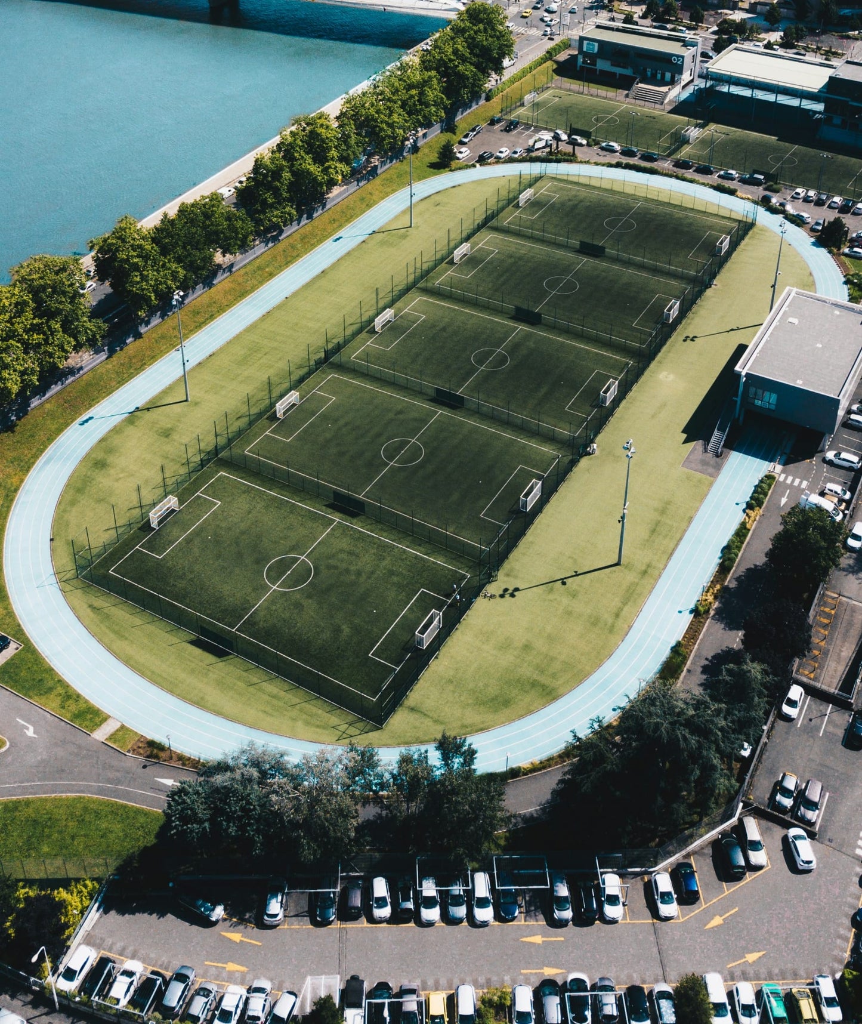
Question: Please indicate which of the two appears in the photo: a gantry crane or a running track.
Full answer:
Visible in the photo is a running track.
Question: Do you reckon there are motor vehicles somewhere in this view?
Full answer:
Yes, there is a motor vehicle in the image.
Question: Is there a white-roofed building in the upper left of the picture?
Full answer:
No, I see no white-roofed building in the upper left of the picture.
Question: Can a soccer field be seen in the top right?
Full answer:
Yes, there is a soccer field in the top right.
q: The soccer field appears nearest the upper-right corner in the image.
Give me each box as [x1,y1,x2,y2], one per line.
[679,120,862,196]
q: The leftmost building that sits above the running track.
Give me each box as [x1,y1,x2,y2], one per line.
[578,19,710,98]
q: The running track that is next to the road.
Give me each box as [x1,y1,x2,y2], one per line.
[8,161,848,787]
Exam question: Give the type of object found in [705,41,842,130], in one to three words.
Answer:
building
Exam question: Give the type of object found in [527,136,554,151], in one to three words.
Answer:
vehicle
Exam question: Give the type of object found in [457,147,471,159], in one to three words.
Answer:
vehicle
